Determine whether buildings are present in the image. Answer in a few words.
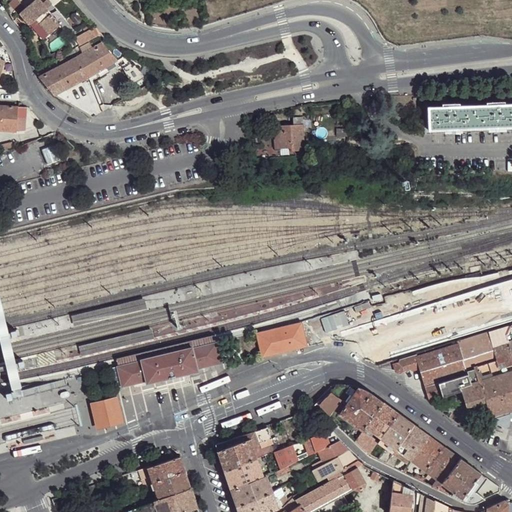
Yes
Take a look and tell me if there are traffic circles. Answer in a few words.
No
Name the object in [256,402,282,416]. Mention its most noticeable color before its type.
white vehicle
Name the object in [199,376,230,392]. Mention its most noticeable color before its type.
white vehicle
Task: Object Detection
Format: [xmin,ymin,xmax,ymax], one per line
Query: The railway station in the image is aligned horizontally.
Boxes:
[14,250,369,386]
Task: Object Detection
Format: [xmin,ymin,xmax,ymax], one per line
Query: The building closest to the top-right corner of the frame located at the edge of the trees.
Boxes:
[426,102,512,136]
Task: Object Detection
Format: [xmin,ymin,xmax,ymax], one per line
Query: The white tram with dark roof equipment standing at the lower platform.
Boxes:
[4,425,54,442]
